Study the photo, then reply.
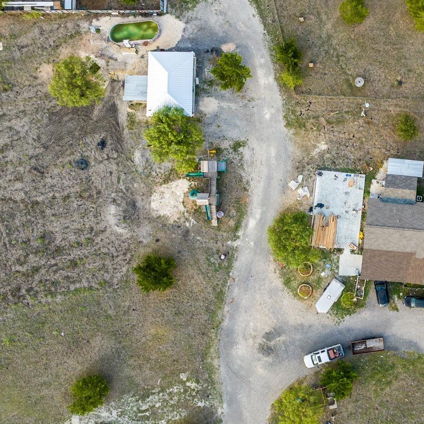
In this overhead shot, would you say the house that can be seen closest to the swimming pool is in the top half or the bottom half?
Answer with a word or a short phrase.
top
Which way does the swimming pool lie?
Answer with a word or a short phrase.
from side to side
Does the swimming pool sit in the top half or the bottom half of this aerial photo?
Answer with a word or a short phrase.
top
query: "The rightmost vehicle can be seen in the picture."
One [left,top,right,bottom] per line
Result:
[403,296,424,309]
